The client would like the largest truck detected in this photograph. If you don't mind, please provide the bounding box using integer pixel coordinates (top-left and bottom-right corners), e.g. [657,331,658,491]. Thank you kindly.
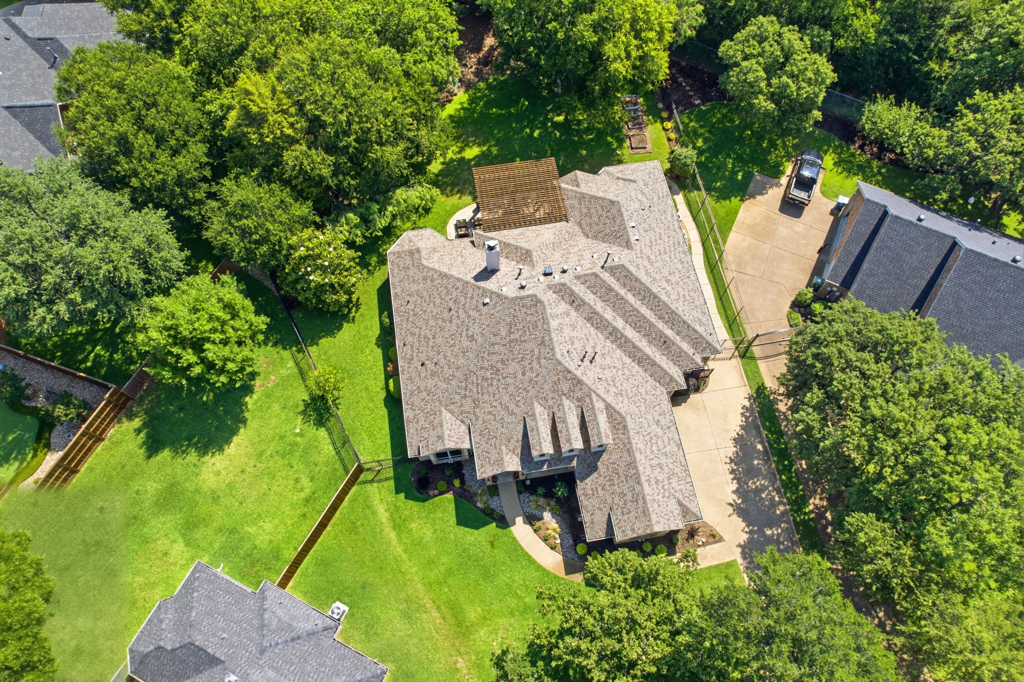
[784,149,825,213]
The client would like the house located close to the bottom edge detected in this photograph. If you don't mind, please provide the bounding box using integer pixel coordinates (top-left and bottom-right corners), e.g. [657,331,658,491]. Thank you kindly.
[124,558,390,682]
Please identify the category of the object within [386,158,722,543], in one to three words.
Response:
house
